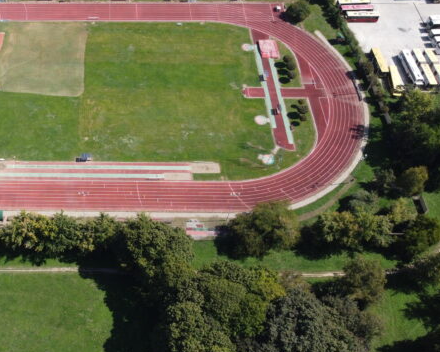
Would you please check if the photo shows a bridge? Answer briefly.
No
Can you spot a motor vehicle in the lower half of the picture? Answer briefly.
No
